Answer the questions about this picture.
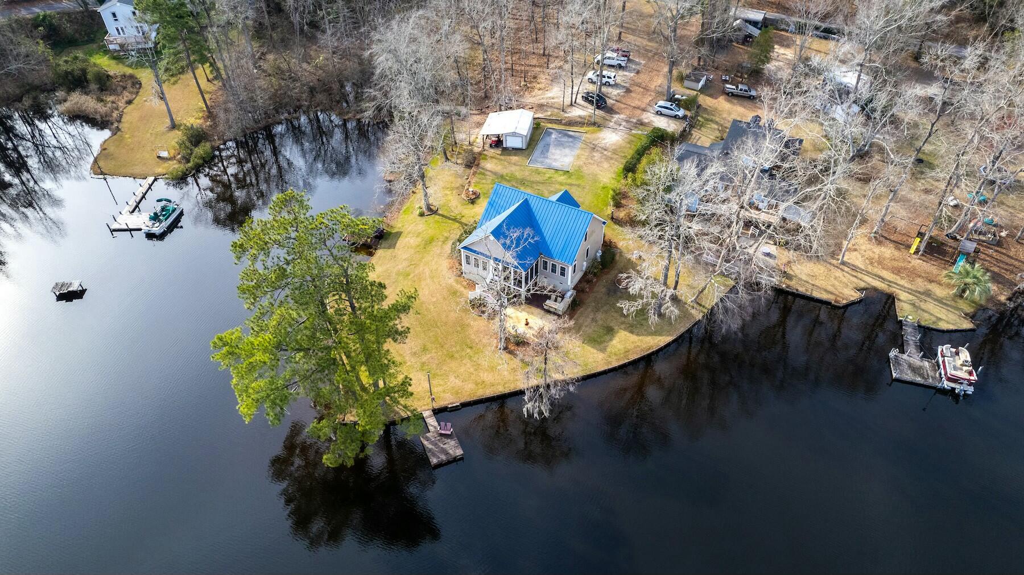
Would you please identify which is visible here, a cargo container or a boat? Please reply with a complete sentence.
This aerial view contains a boat.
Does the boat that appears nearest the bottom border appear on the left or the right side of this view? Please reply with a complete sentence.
You can find the boat that appears nearest the bottom border on the right side of the picture.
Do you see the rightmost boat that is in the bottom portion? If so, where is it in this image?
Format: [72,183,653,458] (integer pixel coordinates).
[933,347,978,405]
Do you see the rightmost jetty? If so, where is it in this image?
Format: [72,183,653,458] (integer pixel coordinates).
[887,313,942,389]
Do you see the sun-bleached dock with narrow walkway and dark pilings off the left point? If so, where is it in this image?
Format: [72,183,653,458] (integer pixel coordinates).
[106,177,156,236]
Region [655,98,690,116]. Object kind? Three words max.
car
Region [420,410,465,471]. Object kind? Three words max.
pier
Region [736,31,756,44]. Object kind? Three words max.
vehicle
